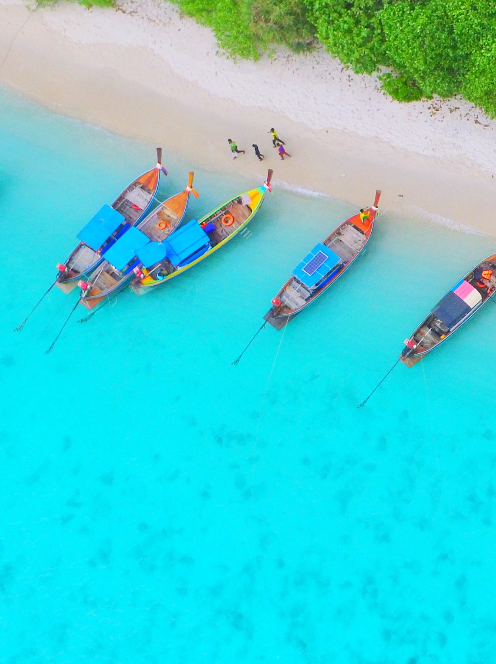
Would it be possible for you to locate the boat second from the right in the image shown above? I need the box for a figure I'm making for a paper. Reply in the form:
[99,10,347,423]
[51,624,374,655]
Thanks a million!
[230,190,384,367]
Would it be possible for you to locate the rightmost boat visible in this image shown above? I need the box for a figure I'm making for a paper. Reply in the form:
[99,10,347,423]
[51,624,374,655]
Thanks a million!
[357,253,496,411]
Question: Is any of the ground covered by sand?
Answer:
Yes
